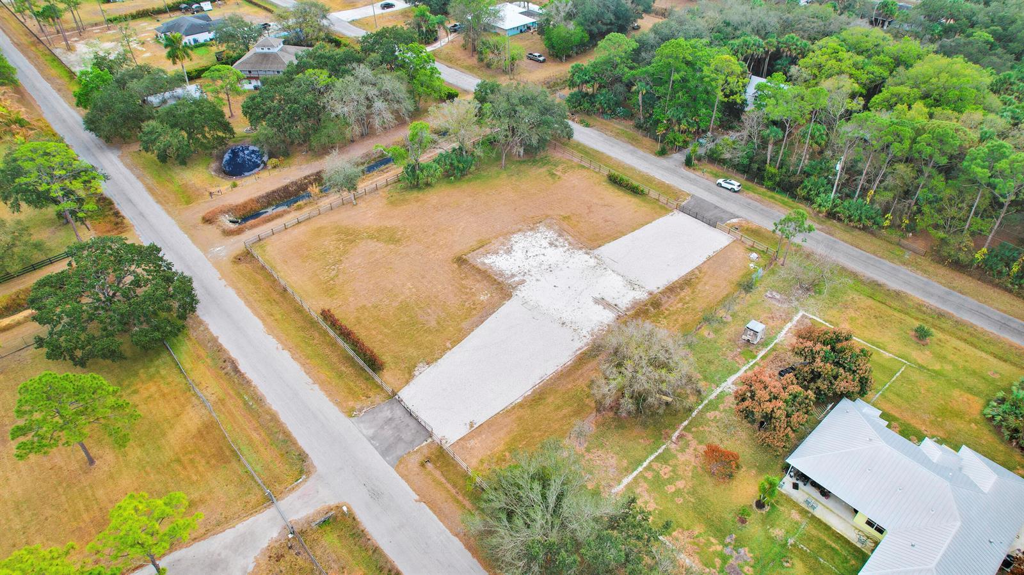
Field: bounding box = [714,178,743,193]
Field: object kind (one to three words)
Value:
car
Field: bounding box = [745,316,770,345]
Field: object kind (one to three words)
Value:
shed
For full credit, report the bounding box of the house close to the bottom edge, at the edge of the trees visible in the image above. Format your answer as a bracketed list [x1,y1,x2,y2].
[785,397,1024,575]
